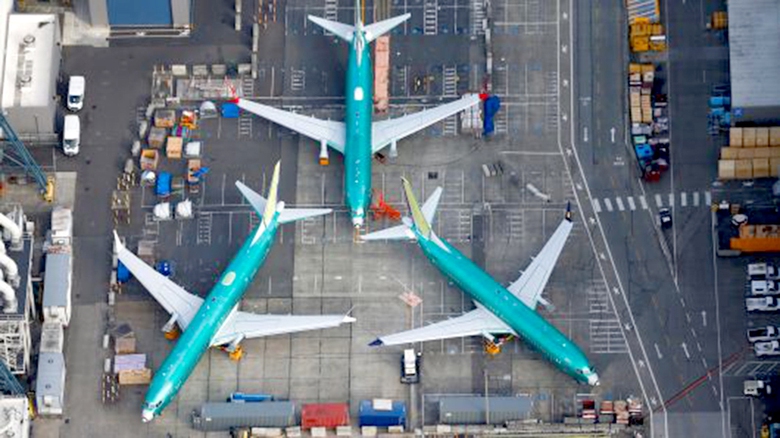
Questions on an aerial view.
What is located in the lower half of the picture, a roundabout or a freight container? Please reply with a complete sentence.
Visible in the lower half of the picture is a freight container.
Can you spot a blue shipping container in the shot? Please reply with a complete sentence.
Yes, there's a blue shipping container here.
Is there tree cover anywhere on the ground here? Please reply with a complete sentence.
No, the picture contains no tree cover.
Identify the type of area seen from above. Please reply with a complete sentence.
This looks like an airport.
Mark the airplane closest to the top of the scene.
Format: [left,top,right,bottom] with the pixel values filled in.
[229,0,488,228]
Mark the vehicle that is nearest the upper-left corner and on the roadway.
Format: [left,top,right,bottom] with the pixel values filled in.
[66,76,84,109]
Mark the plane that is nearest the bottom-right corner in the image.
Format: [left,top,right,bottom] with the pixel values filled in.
[366,178,598,385]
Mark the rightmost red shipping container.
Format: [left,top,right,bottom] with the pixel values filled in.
[302,402,350,427]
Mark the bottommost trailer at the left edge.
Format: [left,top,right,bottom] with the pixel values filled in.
[34,353,69,413]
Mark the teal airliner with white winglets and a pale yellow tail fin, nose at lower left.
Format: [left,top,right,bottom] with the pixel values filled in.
[110,160,359,420]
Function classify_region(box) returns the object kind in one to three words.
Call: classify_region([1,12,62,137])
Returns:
building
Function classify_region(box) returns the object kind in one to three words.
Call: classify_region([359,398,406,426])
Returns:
shipping container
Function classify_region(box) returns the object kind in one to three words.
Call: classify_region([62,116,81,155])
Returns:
vehicle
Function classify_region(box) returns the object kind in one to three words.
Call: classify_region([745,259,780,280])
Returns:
truck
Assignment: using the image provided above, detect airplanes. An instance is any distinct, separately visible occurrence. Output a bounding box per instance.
[229,0,488,228]
[366,178,598,385]
[110,160,359,420]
